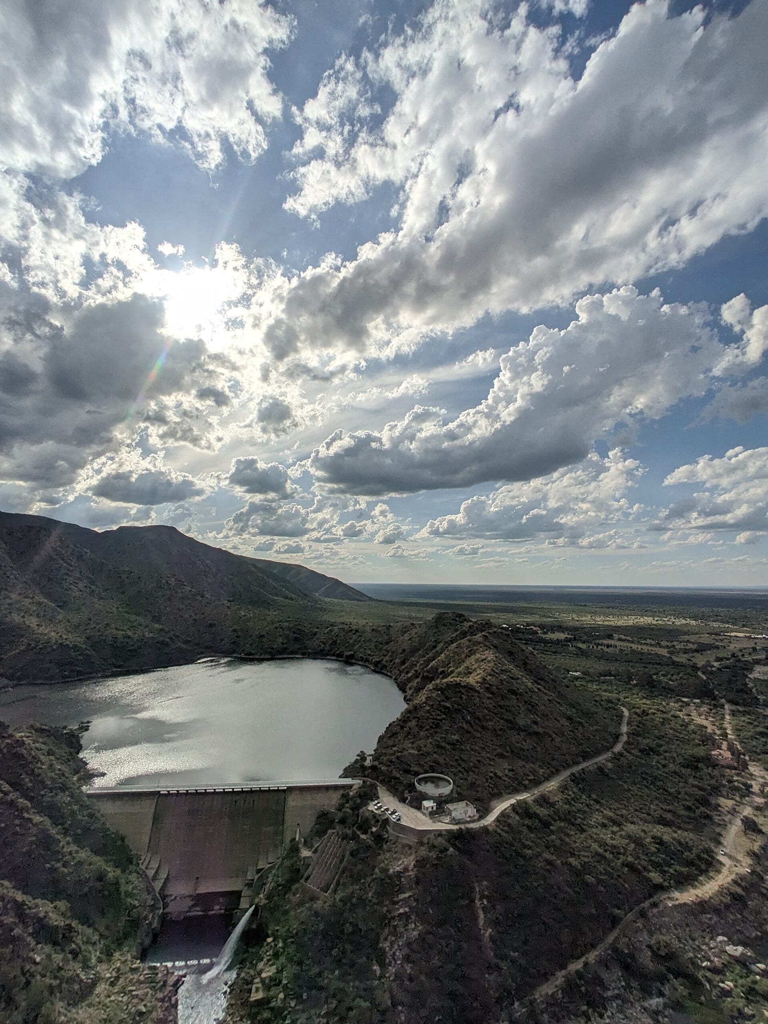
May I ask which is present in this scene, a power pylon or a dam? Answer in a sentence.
There is a dam in the scene.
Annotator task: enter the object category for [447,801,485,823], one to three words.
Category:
building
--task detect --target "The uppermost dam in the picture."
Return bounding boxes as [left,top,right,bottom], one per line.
[87,773,371,914]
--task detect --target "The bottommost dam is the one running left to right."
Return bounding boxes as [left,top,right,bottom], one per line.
[154,960,217,980]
